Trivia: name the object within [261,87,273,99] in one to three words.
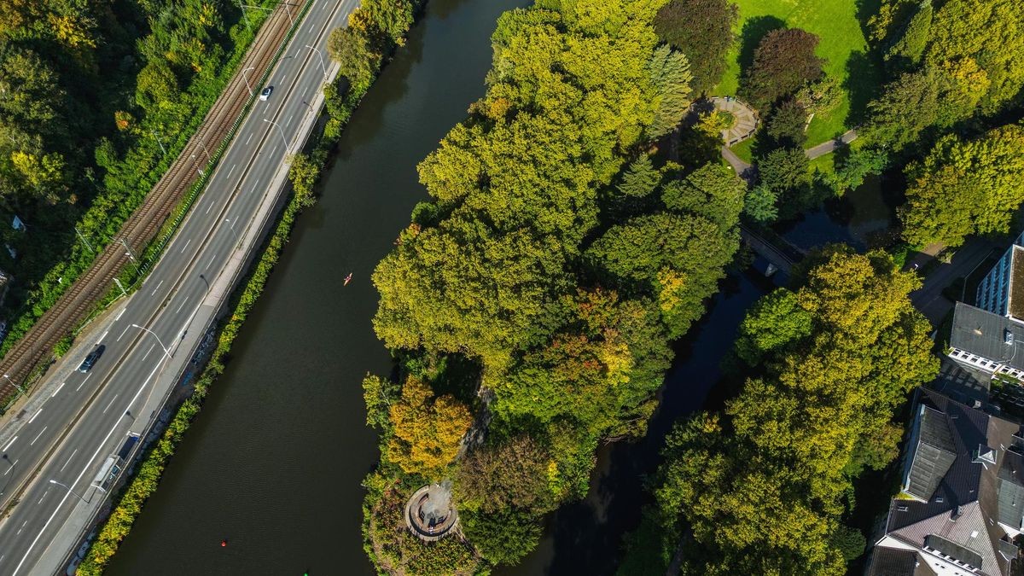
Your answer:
vehicle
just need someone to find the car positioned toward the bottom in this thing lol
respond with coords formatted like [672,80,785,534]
[80,348,101,370]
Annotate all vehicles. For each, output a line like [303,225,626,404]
[80,348,101,370]
[261,87,273,99]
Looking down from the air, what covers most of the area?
trees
